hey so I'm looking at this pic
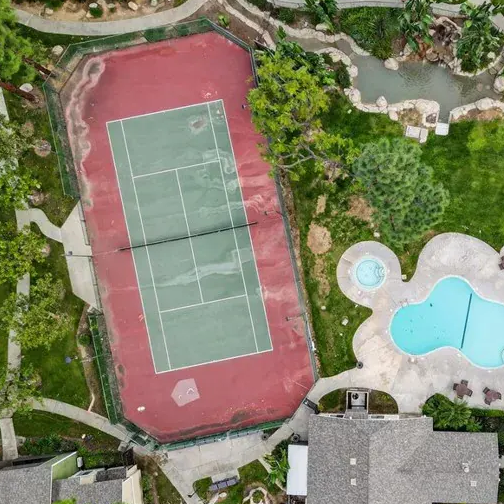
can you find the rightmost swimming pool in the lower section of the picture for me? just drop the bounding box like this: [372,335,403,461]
[387,274,504,371]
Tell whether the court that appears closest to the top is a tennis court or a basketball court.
tennis court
